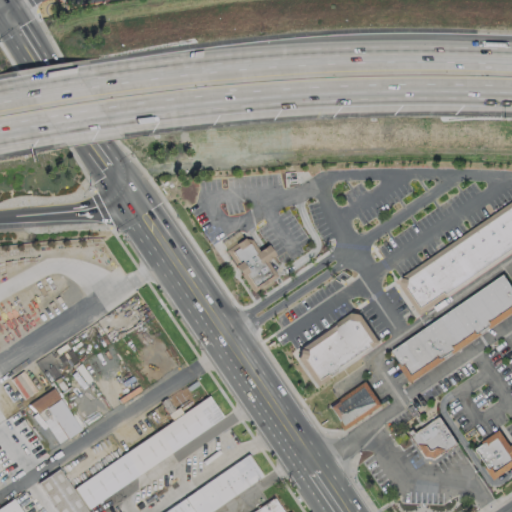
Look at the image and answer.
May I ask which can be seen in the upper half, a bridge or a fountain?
bridge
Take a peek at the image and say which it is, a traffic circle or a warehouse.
warehouse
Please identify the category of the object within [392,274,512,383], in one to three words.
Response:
building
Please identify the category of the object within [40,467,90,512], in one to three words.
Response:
building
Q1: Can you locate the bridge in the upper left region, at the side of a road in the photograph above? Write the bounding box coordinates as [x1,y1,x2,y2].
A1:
[8,57,136,153]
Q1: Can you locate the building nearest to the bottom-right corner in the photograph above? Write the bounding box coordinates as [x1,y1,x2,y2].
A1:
[475,430,512,480]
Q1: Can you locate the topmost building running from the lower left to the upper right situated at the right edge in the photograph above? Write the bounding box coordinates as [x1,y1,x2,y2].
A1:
[402,204,512,312]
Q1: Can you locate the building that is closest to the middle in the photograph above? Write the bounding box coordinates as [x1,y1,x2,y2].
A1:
[228,238,280,292]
